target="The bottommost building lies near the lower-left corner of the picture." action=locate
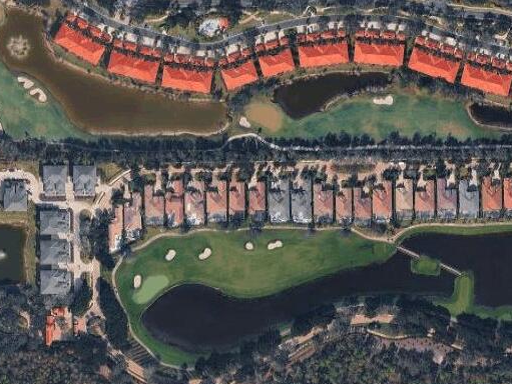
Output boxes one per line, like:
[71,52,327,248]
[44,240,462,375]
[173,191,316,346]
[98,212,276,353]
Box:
[45,308,72,347]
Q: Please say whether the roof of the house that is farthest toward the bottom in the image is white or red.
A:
red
